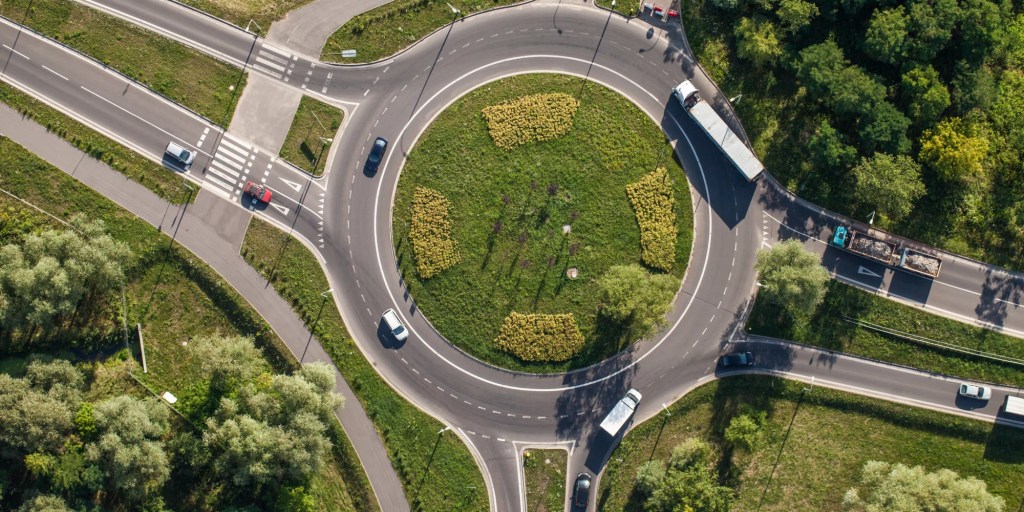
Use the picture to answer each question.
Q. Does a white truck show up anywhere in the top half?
Yes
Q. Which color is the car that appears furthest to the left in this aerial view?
white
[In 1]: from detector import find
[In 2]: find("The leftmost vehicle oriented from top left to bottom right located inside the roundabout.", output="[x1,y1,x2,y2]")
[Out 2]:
[383,309,408,340]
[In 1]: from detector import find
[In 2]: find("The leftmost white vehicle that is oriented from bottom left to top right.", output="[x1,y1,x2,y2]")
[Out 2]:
[600,386,645,436]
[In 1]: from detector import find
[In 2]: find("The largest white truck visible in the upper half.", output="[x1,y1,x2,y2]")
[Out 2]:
[673,81,763,182]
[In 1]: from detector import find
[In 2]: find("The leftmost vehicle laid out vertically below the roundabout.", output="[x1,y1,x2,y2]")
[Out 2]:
[576,472,591,507]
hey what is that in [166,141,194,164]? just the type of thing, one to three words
car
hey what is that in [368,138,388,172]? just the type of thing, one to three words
car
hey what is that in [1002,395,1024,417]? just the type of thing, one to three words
truck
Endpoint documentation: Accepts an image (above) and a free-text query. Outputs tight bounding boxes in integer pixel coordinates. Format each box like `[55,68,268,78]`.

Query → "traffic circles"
[324,5,763,442]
